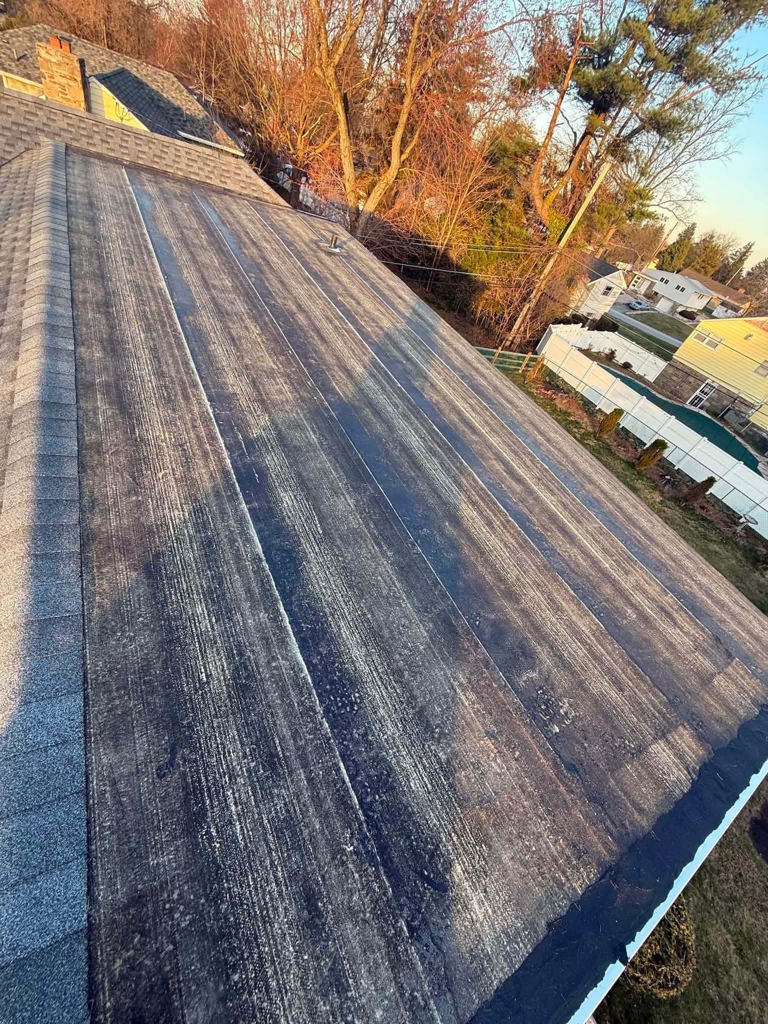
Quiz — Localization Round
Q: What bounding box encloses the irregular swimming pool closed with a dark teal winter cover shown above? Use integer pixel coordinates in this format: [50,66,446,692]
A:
[601,362,768,496]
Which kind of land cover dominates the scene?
buildings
